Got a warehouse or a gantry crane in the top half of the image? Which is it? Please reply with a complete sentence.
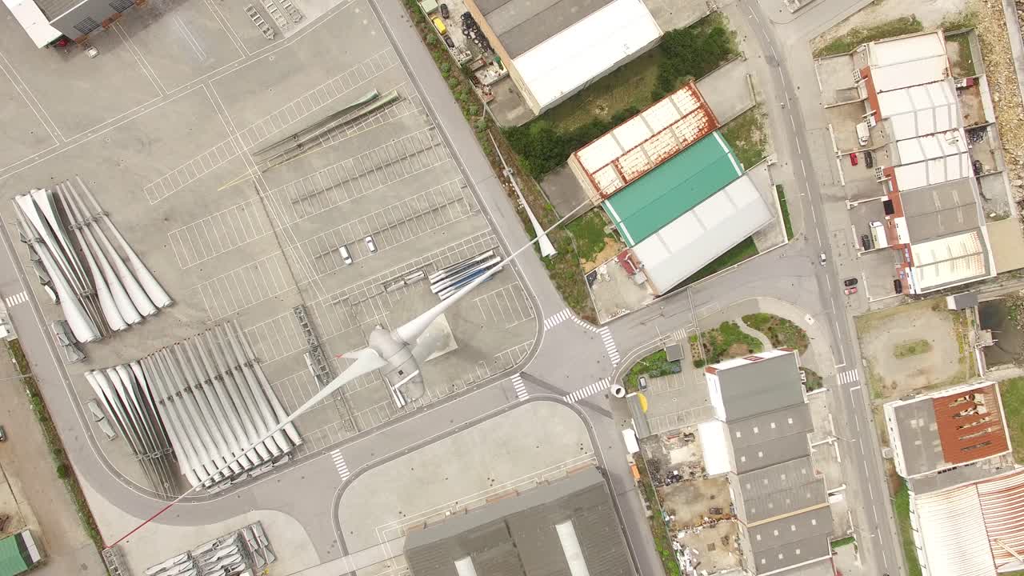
Looking in the top half of the image, you will find a warehouse.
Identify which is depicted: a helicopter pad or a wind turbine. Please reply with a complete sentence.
I can see a wind turbine in this picture.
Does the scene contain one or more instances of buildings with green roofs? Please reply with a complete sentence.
Yes, there's a building with a green roof here.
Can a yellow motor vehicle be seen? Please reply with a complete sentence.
Yes, there is a yellow motor vehicle in the image.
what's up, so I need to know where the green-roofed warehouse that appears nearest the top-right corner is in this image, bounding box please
[597,130,744,248]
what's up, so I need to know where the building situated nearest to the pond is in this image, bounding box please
[942,291,979,310]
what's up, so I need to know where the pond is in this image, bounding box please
[979,295,1024,373]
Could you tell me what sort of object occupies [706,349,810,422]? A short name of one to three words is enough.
building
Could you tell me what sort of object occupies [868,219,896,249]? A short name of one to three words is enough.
truck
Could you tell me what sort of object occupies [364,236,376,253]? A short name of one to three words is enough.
vehicle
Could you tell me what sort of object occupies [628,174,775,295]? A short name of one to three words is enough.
warehouse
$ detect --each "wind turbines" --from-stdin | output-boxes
[119,180,626,542]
